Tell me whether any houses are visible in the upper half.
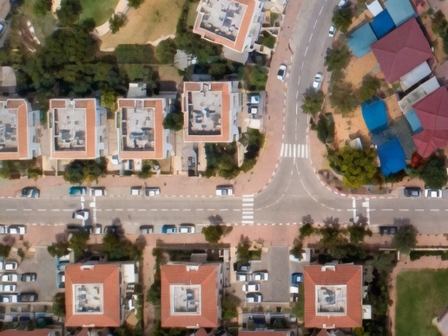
Yes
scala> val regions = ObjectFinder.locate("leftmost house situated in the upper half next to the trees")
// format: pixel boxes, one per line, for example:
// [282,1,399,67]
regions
[0,98,50,158]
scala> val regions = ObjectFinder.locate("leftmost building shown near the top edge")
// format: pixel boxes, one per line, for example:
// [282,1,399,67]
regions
[193,0,275,49]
